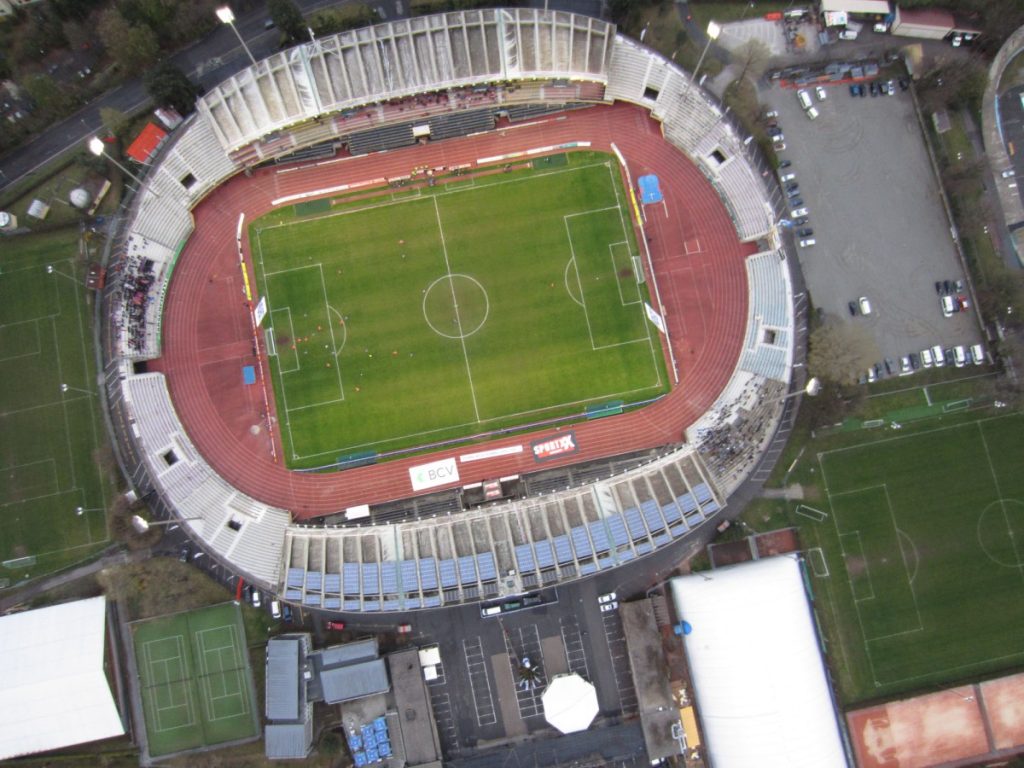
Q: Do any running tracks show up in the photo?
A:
Yes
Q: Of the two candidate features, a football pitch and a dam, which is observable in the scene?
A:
football pitch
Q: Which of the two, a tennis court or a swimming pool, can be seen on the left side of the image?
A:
tennis court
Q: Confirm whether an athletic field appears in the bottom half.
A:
Yes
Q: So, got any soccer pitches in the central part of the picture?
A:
Yes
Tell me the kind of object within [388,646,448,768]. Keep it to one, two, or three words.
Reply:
building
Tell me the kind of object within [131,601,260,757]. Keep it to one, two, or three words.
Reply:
tennis court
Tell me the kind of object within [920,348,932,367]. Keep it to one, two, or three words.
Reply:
vehicle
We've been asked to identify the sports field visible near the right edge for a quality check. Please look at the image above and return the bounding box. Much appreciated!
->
[795,407,1024,708]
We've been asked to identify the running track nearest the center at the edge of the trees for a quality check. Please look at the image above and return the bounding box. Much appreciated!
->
[159,100,748,524]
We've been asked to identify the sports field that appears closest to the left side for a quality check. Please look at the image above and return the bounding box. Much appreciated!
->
[0,239,120,590]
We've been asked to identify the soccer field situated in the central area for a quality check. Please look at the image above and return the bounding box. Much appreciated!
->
[247,150,672,472]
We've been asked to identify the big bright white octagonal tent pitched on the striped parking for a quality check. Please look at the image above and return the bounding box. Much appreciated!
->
[540,668,600,734]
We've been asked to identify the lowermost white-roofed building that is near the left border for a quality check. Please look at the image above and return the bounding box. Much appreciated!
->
[0,596,129,758]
